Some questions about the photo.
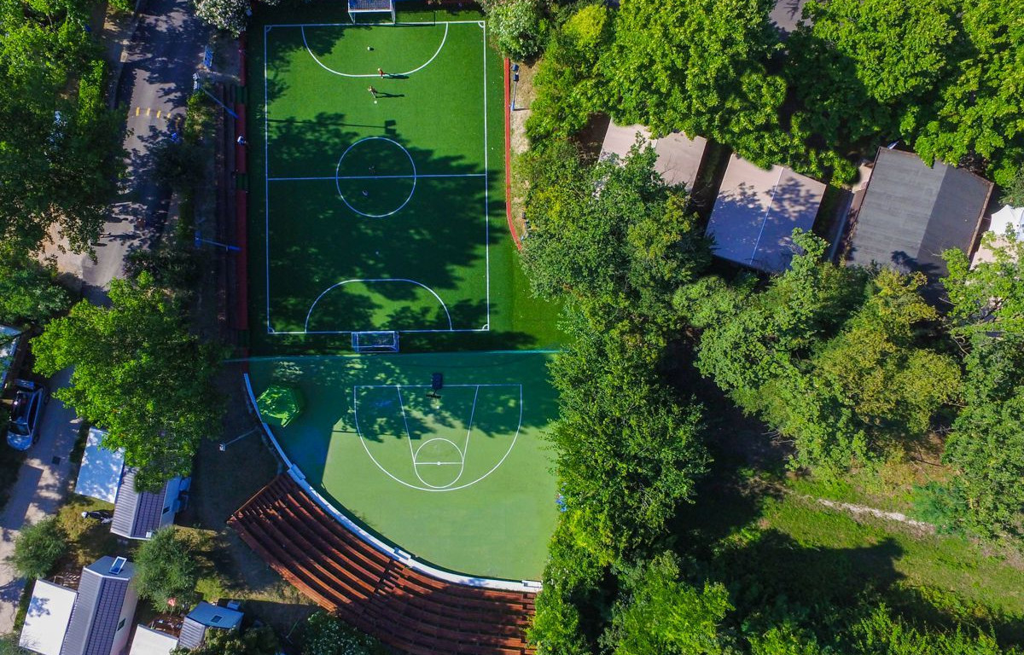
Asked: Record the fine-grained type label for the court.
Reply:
basketball court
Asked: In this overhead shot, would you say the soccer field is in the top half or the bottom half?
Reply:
top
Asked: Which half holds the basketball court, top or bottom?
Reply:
bottom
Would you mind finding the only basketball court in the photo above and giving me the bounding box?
[246,352,589,581]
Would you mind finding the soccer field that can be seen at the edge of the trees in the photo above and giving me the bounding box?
[236,0,589,356]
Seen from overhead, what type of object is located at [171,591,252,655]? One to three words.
house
